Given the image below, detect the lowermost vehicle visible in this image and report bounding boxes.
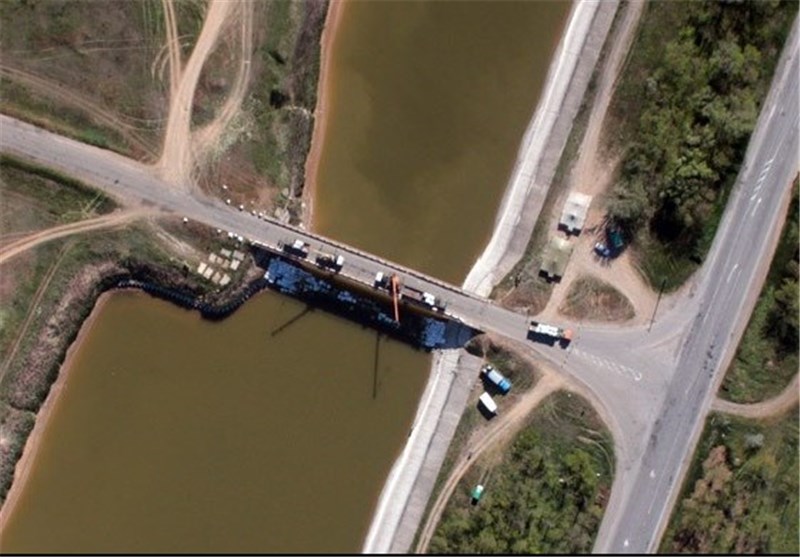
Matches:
[472,484,484,502]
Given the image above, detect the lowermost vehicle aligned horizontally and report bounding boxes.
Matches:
[530,321,573,339]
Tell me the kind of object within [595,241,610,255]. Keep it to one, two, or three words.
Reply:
car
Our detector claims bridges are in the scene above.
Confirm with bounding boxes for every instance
[256,215,488,326]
